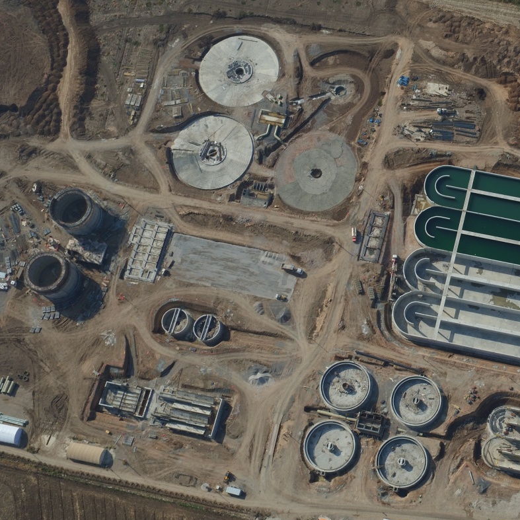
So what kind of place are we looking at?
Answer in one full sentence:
This looks like an industrial area.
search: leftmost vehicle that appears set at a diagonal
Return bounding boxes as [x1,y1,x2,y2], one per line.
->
[7,268,27,285]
